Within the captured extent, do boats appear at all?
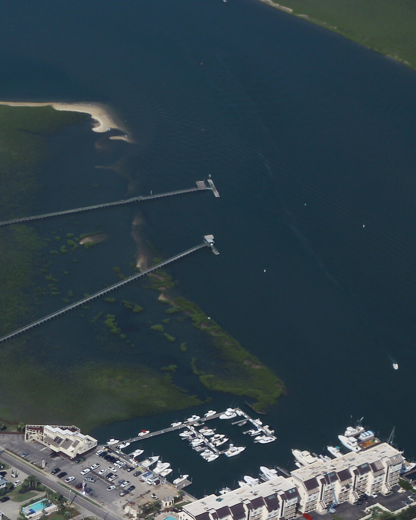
Yes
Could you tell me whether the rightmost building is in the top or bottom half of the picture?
bottom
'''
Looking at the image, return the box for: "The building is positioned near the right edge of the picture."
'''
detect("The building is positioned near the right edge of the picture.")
[292,443,404,514]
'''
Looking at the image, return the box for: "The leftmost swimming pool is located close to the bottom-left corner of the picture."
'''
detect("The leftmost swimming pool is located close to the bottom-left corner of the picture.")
[22,498,55,516]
